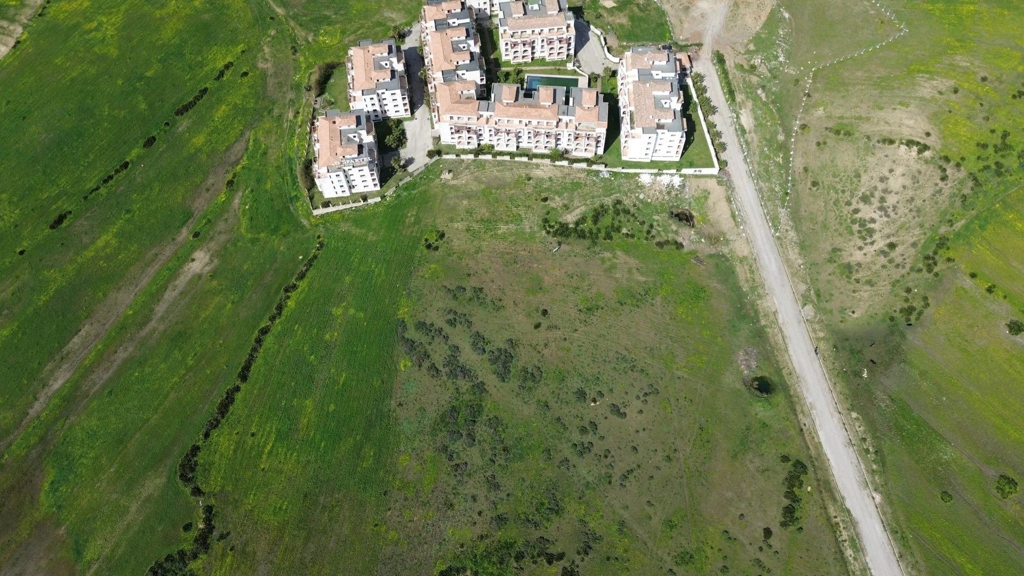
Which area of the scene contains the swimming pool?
top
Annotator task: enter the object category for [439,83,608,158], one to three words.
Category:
building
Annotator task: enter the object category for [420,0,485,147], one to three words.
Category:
building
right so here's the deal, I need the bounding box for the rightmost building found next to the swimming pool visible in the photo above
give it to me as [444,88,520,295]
[616,36,685,161]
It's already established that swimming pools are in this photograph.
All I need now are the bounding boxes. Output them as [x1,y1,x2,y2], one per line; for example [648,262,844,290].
[524,74,587,97]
